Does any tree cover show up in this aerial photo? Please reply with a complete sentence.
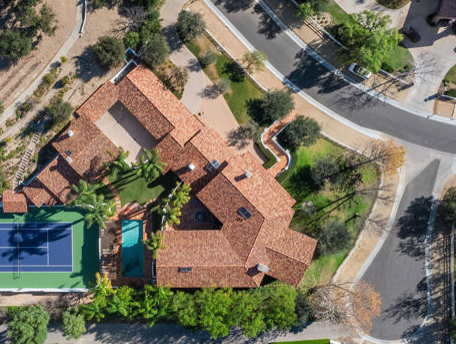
Yes, there is tree cover in the image.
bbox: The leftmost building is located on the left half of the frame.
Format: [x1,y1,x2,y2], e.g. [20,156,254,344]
[2,190,29,213]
